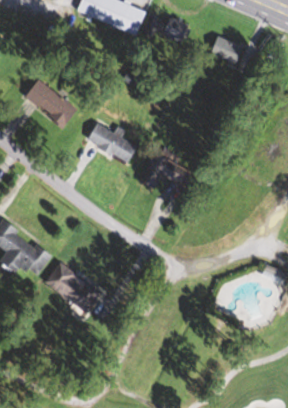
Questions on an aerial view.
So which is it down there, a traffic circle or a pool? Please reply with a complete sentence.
Looking from above, you can make out a pool.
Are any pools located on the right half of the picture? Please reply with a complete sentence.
Yes, a pool is visible on the right half of the picture.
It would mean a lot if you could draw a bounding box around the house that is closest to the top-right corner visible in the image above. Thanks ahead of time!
[212,36,241,64]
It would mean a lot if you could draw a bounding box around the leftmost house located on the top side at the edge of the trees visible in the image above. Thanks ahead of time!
[26,82,80,131]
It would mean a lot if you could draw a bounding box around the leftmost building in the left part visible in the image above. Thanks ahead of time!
[0,218,51,276]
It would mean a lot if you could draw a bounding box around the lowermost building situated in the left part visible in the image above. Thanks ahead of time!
[44,263,88,308]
